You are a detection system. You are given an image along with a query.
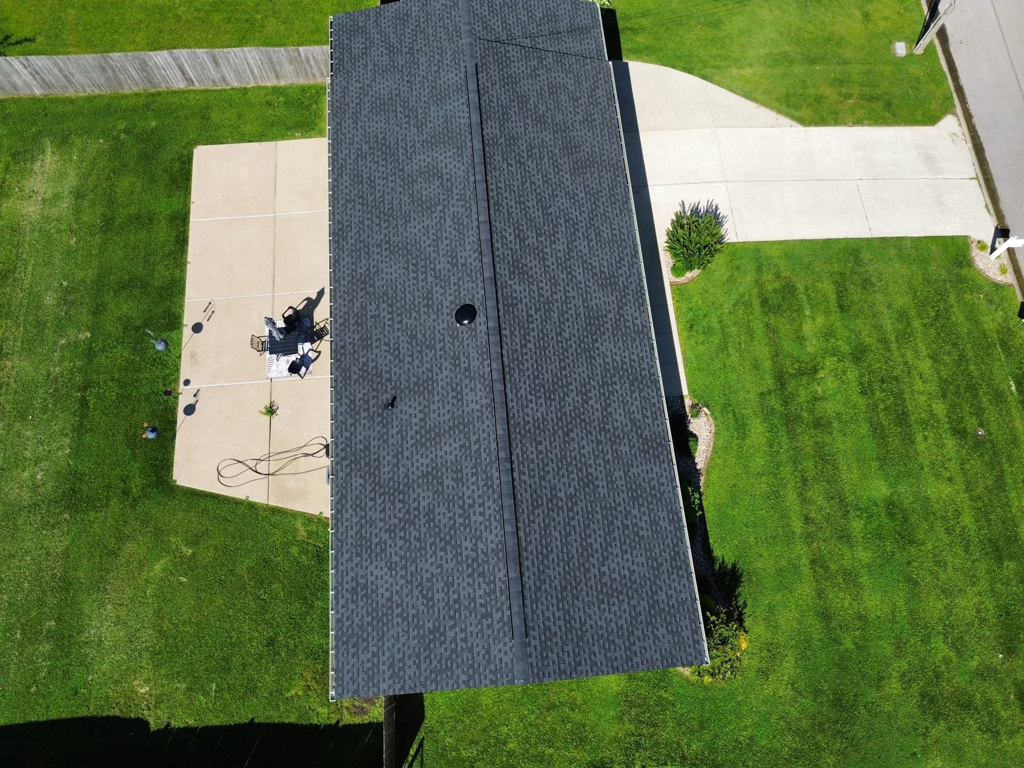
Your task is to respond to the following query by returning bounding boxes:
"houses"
[326,0,711,701]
